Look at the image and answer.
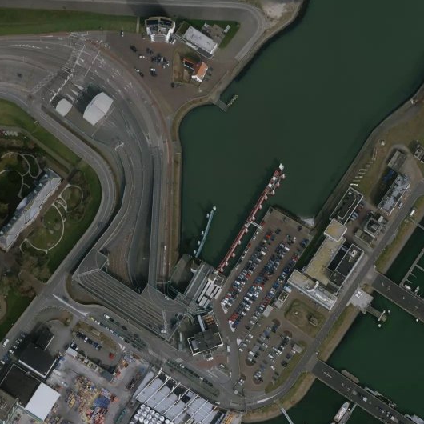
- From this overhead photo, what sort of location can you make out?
port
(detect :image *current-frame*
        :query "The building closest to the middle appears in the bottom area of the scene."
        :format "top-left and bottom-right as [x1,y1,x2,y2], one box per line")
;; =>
[197,274,225,310]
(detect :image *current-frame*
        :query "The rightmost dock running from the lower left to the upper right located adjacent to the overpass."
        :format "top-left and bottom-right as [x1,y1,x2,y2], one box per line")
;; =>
[217,165,285,271]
